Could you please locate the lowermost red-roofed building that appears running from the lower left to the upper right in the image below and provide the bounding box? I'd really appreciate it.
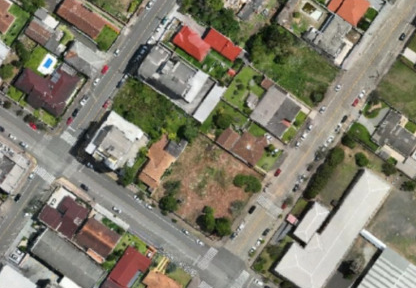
[103,244,150,288]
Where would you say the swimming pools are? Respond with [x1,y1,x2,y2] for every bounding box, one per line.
[301,1,317,13]
[42,57,54,69]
